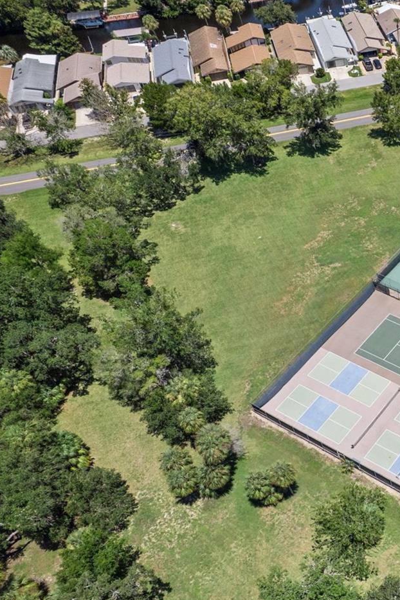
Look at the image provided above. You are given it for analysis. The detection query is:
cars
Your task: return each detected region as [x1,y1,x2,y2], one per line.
[362,55,373,68]
[372,56,383,67]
